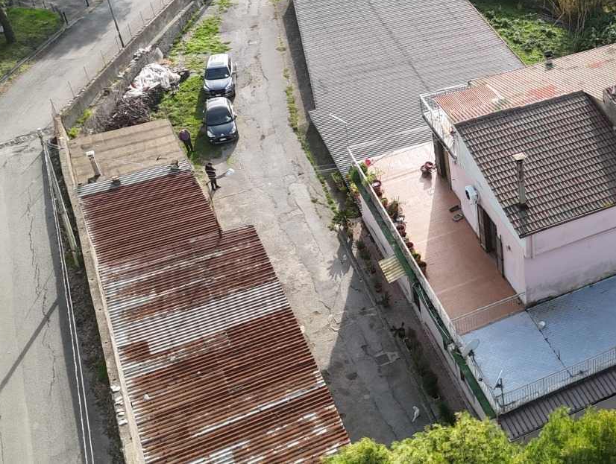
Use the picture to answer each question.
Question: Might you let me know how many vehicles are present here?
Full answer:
I count 2 vehicles.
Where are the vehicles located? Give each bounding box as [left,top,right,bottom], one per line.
[198,48,238,97]
[201,93,242,144]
